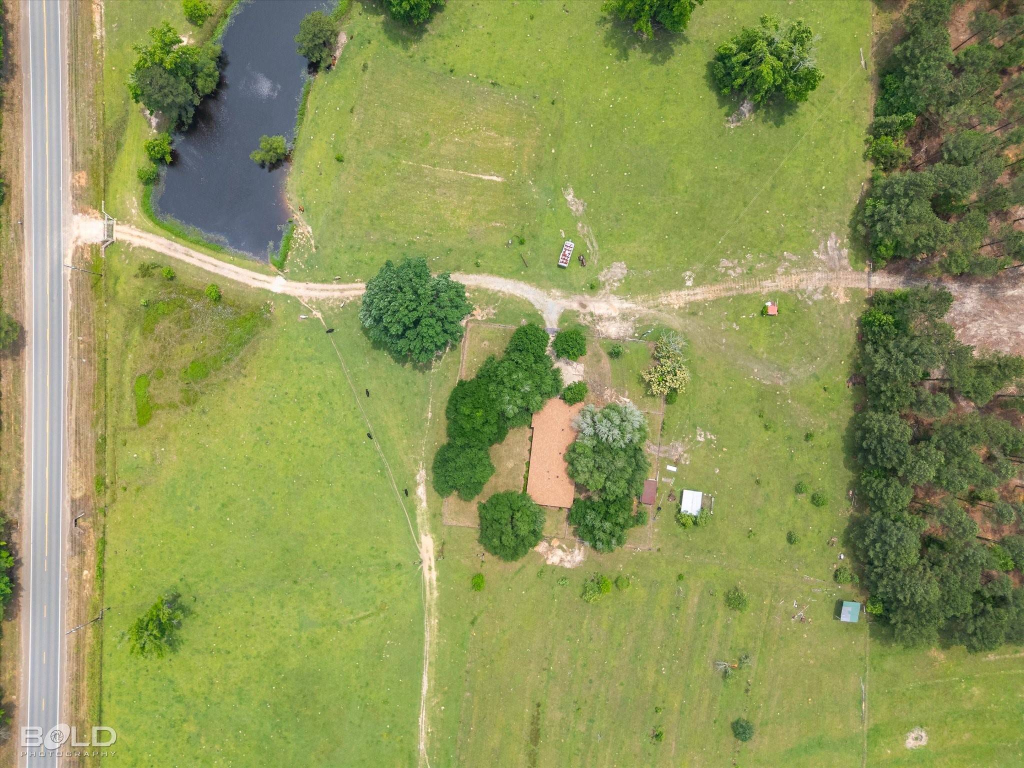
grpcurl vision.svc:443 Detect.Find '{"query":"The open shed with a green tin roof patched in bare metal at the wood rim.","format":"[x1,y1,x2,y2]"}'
[830,597,860,622]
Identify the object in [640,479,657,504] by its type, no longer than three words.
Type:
shed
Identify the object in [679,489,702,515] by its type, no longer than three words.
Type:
shed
